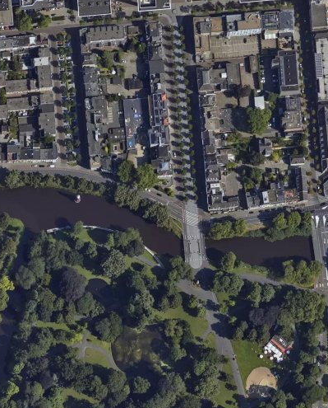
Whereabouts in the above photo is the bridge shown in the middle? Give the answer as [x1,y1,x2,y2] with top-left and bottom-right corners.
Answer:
[184,209,206,268]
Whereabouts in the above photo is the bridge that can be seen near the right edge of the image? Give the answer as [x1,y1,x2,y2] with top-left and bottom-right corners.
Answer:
[312,211,328,262]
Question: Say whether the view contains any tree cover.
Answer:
Yes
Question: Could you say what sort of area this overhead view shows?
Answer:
residential area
